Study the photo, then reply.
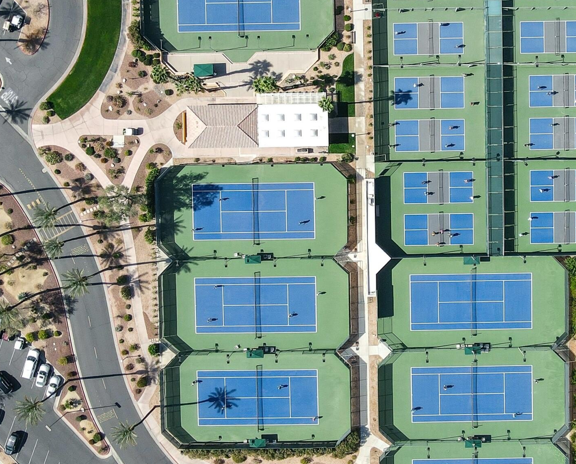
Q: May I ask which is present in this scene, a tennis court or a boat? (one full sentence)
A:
This aerial view contains a tennis court.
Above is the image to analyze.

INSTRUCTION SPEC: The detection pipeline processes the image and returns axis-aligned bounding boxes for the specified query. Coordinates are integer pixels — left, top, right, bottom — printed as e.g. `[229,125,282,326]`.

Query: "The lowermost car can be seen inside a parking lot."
[5,431,20,456]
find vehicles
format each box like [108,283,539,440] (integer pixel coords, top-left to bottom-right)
[1,330,13,343]
[14,338,29,350]
[11,15,25,26]
[46,374,62,399]
[5,431,20,456]
[126,128,138,134]
[19,351,40,380]
[0,371,14,396]
[35,363,51,388]
[2,21,17,31]
[298,148,309,153]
